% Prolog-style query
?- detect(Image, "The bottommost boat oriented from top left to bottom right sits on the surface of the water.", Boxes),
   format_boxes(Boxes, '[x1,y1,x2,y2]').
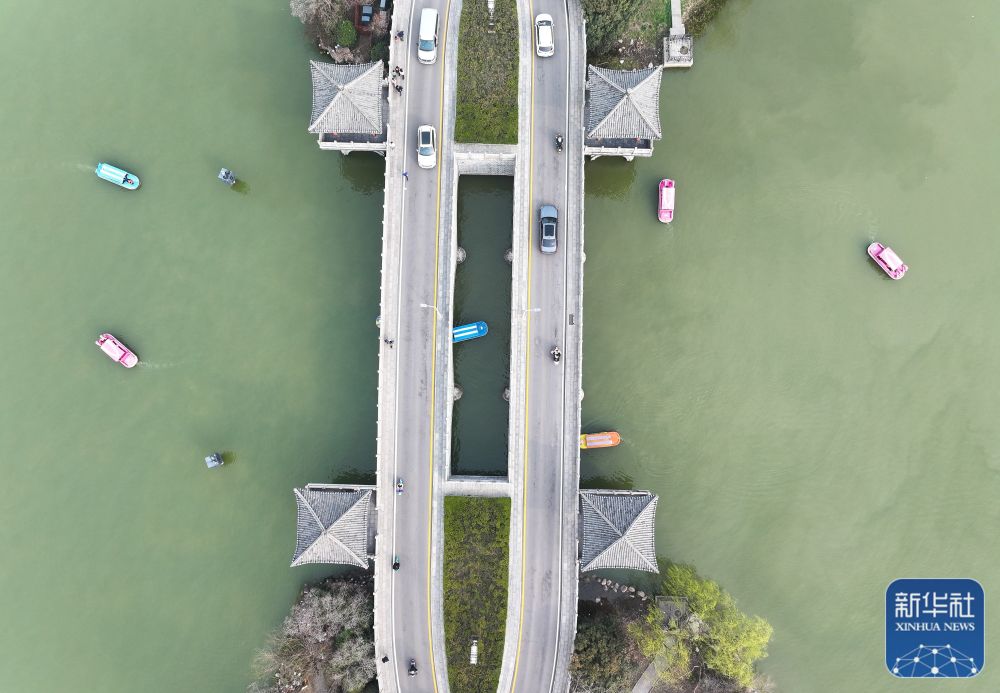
[101,334,143,370]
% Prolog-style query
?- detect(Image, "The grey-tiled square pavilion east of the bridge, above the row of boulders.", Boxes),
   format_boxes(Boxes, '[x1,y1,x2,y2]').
[579,489,660,574]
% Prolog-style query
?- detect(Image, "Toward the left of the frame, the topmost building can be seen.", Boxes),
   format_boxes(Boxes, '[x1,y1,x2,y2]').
[308,60,389,149]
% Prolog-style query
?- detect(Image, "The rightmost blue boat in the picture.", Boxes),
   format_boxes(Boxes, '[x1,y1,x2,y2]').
[455,321,489,342]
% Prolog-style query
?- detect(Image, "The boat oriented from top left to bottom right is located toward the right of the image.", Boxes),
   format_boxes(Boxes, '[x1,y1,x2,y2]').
[860,243,904,281]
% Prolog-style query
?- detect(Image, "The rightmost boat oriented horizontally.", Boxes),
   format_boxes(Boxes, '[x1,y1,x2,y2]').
[581,431,620,448]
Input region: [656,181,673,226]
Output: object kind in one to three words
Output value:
boat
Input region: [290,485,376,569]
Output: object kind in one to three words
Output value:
building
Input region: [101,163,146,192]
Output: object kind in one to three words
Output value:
boat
